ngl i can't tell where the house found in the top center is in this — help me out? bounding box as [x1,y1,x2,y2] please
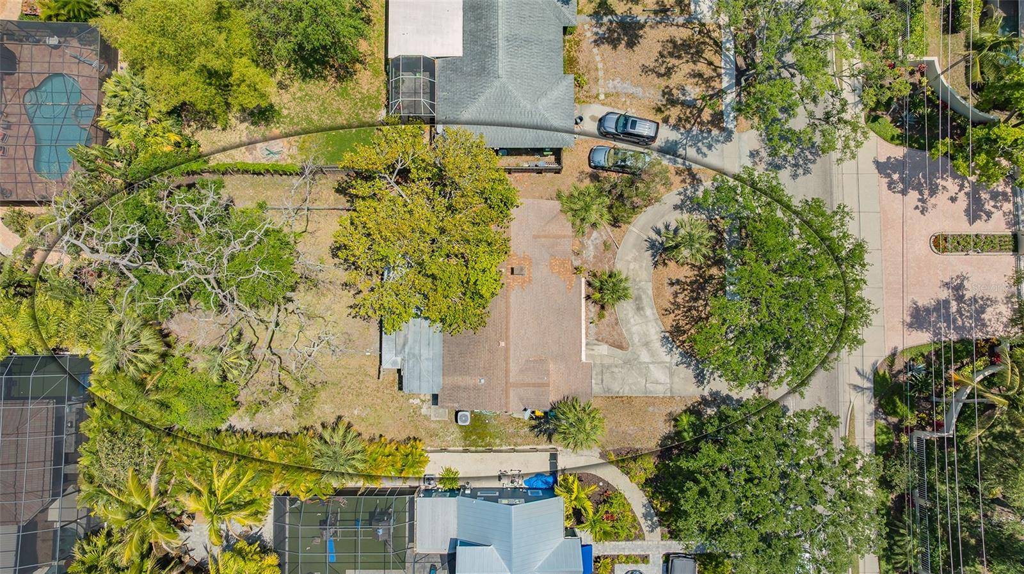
[435,0,578,148]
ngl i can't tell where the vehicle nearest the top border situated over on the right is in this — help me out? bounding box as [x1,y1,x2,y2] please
[594,108,661,146]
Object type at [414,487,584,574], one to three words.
house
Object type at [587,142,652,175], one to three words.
car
